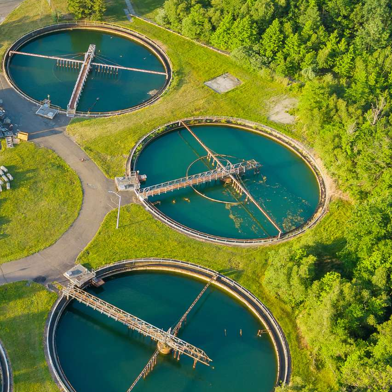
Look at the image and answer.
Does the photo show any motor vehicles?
No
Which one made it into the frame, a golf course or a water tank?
water tank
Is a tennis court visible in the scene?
No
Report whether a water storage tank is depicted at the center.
Yes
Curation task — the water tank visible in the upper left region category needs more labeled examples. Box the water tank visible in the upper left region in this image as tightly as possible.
[3,20,173,121]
